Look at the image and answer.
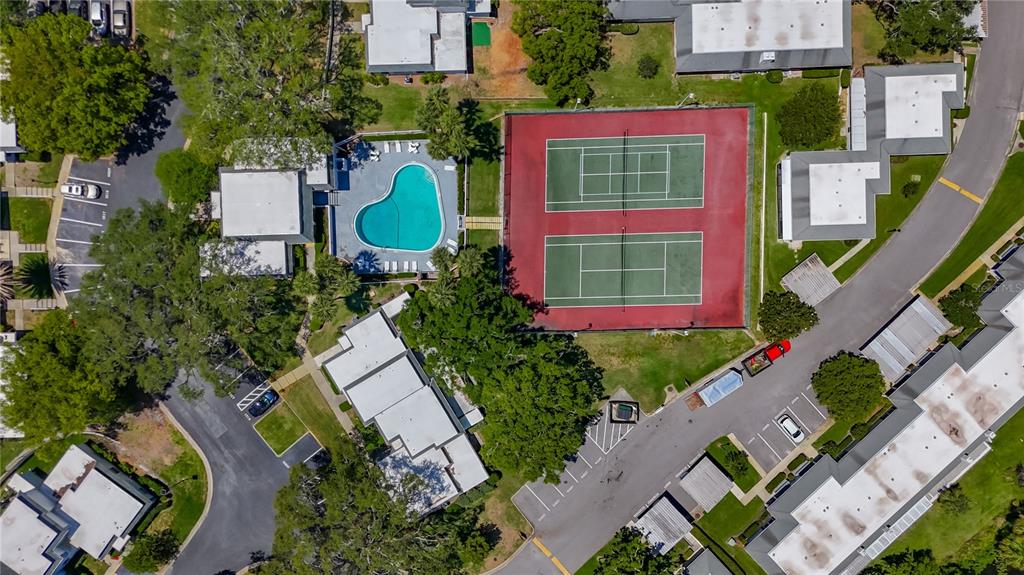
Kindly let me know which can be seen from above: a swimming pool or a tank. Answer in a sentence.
Of the two, only a swimming pool appears.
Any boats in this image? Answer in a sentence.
No, no boat is visible in the view.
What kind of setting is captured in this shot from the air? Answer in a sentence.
This image shows a residential area.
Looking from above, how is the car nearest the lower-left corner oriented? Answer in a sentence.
From this overhead view, the car nearest the lower-left corner appears to run at an angle.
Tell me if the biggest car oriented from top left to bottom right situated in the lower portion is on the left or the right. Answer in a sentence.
It is on the right.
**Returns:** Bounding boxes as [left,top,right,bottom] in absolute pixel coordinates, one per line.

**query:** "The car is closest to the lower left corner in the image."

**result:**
[248,389,280,416]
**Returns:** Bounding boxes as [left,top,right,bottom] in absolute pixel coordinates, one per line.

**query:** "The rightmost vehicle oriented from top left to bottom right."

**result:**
[777,412,805,444]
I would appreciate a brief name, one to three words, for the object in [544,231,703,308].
tennis court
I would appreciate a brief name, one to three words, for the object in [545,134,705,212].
tennis court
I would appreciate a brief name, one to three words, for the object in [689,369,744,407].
trailer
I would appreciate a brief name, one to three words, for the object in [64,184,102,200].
car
